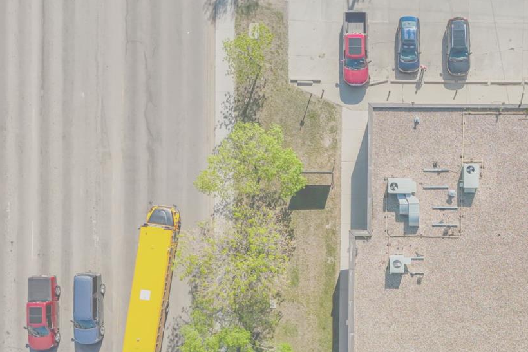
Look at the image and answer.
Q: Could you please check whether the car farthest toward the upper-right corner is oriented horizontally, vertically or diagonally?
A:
vertically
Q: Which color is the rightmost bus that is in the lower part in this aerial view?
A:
yellow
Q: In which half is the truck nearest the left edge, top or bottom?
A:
bottom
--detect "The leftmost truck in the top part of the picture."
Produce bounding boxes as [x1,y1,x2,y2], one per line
[340,11,371,87]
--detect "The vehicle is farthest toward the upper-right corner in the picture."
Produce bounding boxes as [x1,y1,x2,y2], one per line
[444,17,474,77]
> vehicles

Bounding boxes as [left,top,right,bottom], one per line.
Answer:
[444,17,474,77]
[122,202,187,352]
[340,11,371,87]
[72,273,108,343]
[393,16,422,75]
[25,274,62,351]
